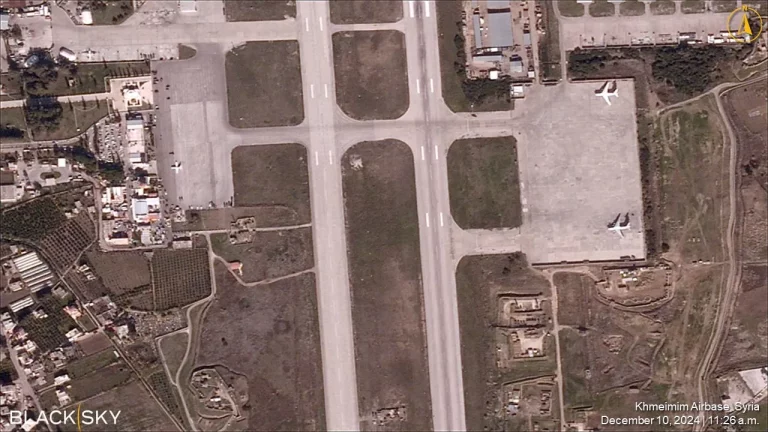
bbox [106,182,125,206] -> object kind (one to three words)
house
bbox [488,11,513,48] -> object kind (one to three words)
building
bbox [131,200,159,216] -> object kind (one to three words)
building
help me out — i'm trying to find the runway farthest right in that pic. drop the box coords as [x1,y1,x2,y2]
[404,0,466,432]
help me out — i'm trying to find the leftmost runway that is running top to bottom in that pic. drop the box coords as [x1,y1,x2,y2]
[297,0,359,432]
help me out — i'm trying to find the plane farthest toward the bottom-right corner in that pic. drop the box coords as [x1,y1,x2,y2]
[608,216,632,240]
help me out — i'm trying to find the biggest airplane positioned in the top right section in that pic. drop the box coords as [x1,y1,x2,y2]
[596,82,619,106]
